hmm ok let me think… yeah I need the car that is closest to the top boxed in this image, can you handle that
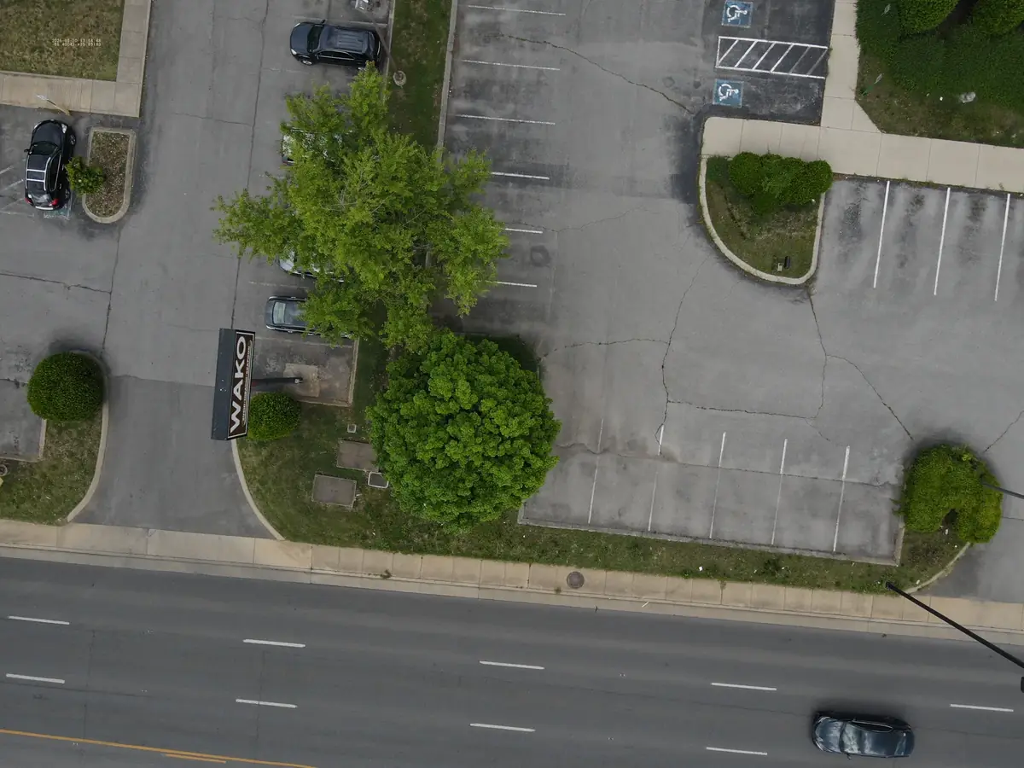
[290,19,384,71]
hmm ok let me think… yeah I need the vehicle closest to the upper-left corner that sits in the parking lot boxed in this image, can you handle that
[22,119,79,213]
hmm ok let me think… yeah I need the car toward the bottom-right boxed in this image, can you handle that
[809,707,915,760]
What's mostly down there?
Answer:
paved ground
